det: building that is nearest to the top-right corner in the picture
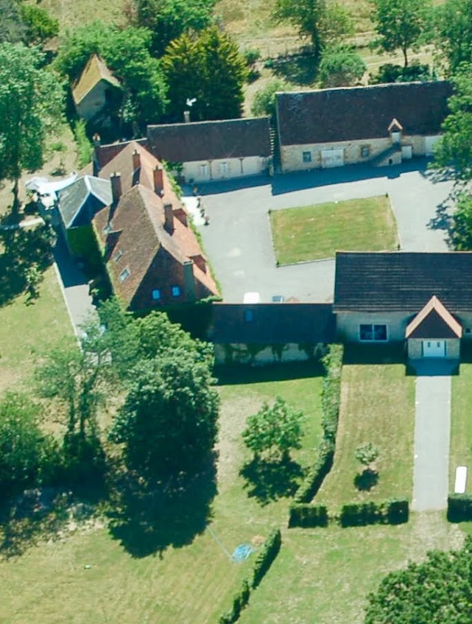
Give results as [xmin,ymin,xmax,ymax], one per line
[274,81,456,175]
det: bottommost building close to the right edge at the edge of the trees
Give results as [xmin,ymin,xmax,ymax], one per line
[334,249,472,358]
